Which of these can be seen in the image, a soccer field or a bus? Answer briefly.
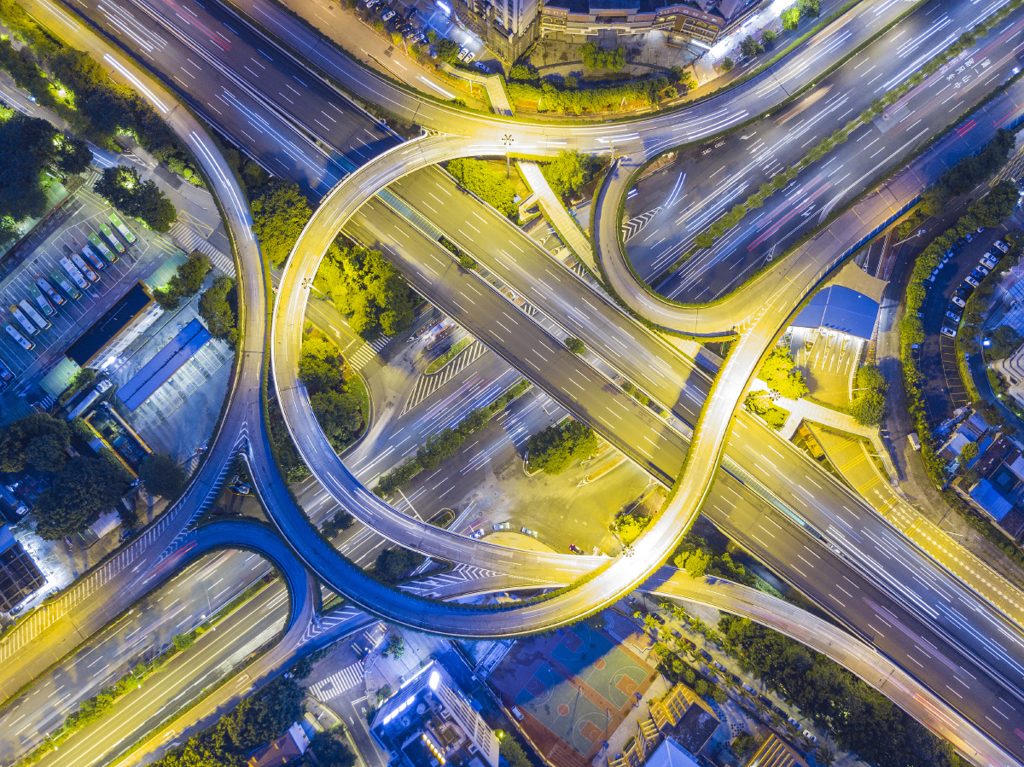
bus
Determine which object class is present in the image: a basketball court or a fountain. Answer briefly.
basketball court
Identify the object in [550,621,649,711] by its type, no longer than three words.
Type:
basketball court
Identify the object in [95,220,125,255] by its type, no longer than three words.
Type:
bus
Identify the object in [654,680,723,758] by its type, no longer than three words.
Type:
building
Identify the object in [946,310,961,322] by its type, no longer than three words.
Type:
vehicle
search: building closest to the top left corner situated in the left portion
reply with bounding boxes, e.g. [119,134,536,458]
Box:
[63,281,158,368]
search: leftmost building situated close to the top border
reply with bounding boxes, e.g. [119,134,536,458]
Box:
[474,0,546,64]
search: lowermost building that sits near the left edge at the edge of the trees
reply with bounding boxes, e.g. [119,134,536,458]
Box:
[0,538,59,622]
